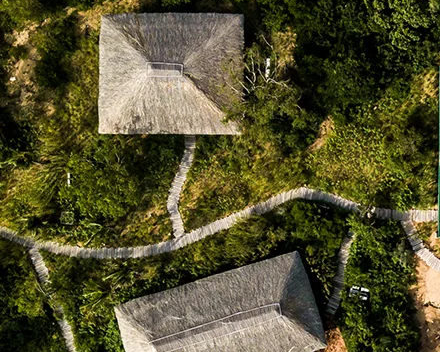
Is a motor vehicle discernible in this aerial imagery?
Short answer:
No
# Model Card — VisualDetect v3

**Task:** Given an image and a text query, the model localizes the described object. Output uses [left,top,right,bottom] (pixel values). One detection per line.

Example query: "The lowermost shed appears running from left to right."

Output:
[114,252,328,352]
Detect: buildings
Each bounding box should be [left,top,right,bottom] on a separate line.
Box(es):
[114,252,328,352]
[98,13,244,135]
